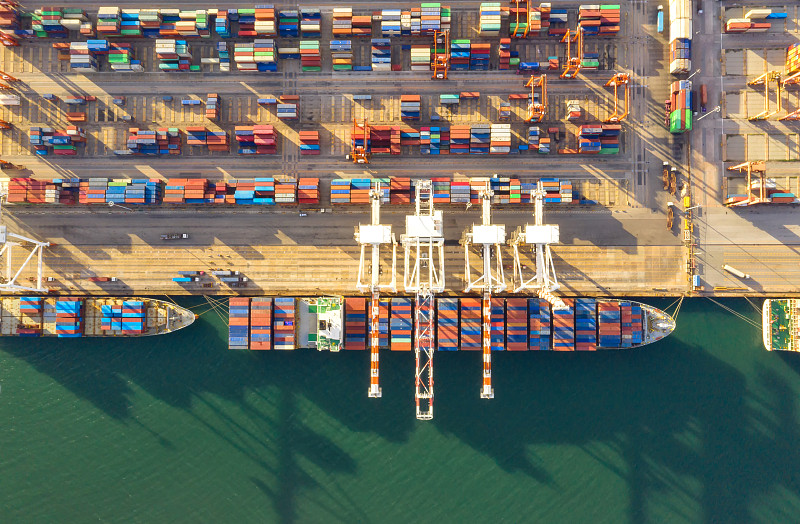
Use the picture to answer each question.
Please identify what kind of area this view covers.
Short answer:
port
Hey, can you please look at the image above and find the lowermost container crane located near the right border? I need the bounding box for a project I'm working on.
[730,160,766,208]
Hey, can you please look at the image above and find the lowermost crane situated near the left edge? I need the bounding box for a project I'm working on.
[0,226,59,292]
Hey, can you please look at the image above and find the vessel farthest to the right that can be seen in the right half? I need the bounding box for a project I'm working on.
[760,298,800,351]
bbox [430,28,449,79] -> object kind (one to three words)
container crane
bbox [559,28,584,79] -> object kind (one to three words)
container crane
